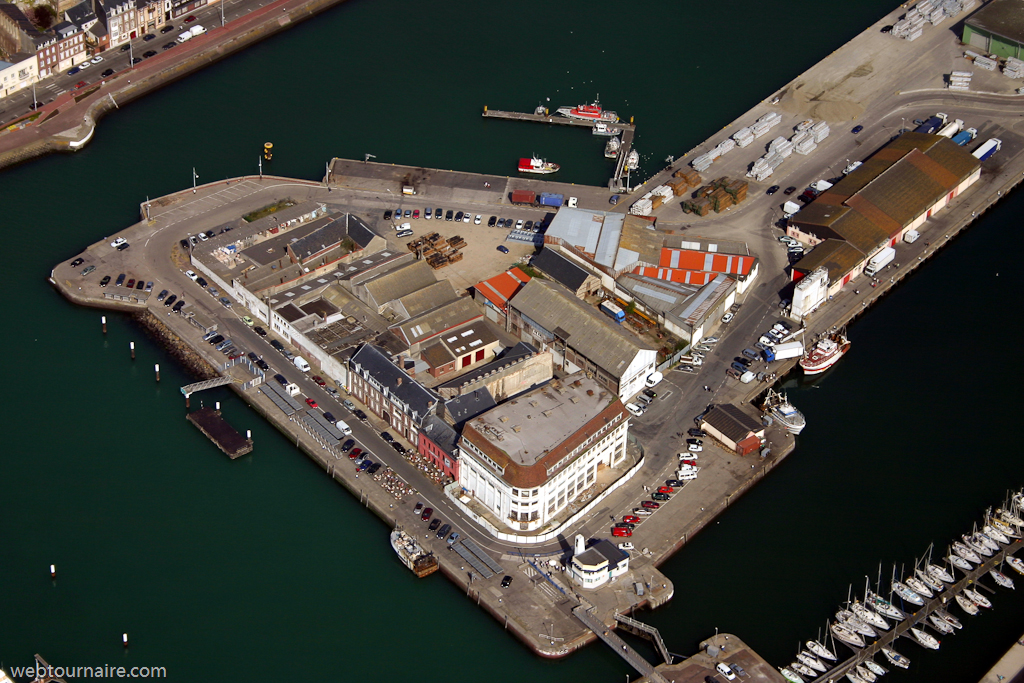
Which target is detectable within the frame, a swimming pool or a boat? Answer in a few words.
boat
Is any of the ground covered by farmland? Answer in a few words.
No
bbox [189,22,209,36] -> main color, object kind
white vehicle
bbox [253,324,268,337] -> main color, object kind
black vehicle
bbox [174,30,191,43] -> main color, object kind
white vehicle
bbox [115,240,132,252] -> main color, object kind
black vehicle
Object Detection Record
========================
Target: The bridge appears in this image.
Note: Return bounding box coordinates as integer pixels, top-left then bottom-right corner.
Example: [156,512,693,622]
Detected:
[572,591,685,683]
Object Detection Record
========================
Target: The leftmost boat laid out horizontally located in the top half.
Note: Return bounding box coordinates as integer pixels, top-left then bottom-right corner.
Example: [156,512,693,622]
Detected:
[518,155,562,174]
